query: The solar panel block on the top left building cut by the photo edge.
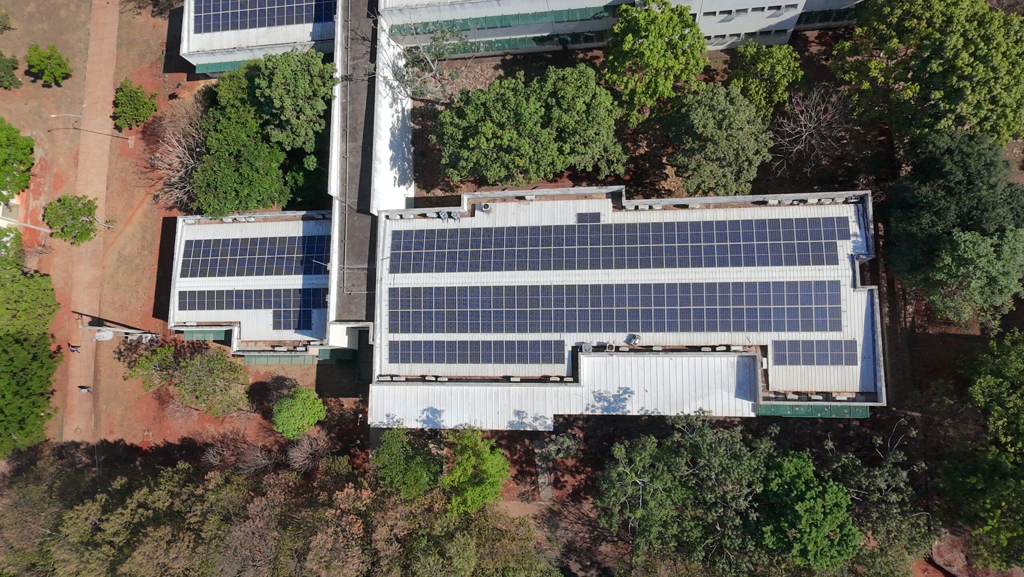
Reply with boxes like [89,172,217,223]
[192,0,337,34]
